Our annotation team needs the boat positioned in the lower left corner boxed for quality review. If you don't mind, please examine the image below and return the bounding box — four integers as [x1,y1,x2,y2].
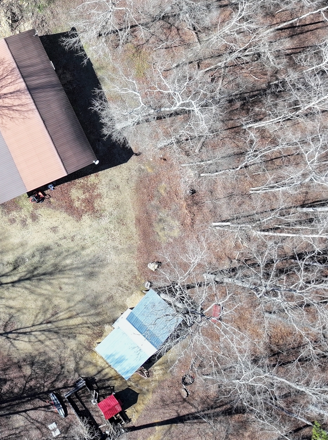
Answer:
[51,394,66,420]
